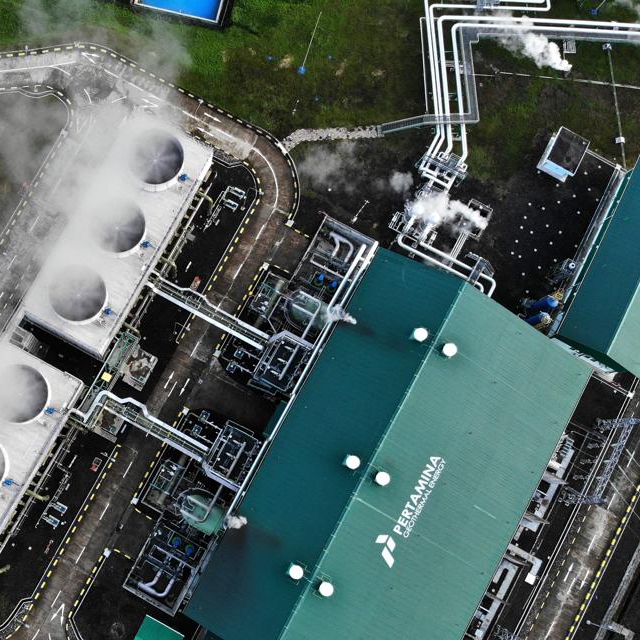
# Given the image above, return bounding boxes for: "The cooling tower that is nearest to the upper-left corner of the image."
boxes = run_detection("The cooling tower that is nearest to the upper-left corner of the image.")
[20,109,222,379]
